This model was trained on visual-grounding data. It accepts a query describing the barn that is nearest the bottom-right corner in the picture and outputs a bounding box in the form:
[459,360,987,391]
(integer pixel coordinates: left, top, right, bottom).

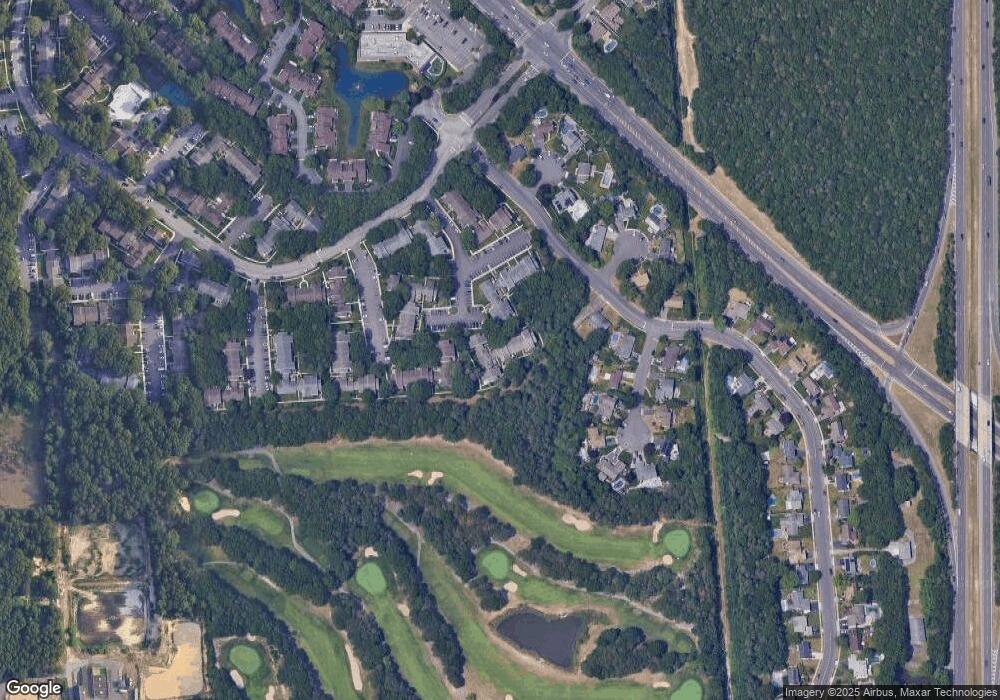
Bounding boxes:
[909,618,927,645]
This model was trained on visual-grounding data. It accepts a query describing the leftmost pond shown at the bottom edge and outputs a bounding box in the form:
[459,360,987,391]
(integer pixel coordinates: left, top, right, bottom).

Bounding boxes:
[498,610,585,669]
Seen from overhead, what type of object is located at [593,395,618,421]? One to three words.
house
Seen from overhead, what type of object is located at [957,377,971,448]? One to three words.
bridge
